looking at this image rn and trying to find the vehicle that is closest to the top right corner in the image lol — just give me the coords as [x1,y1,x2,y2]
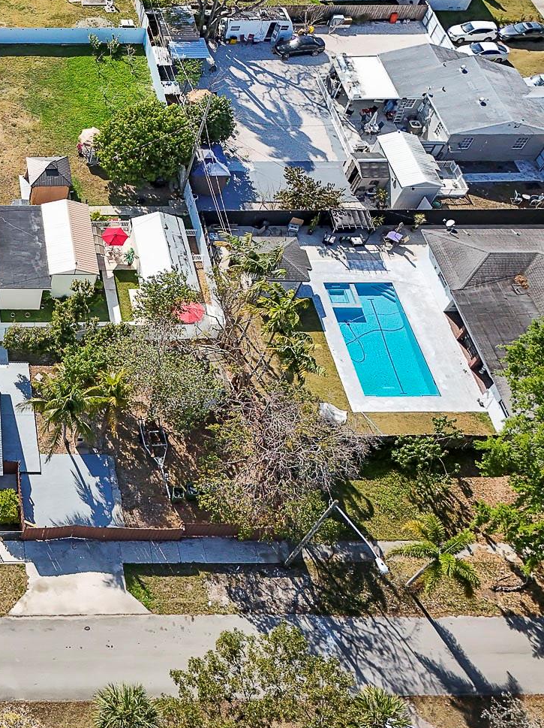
[498,19,544,43]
